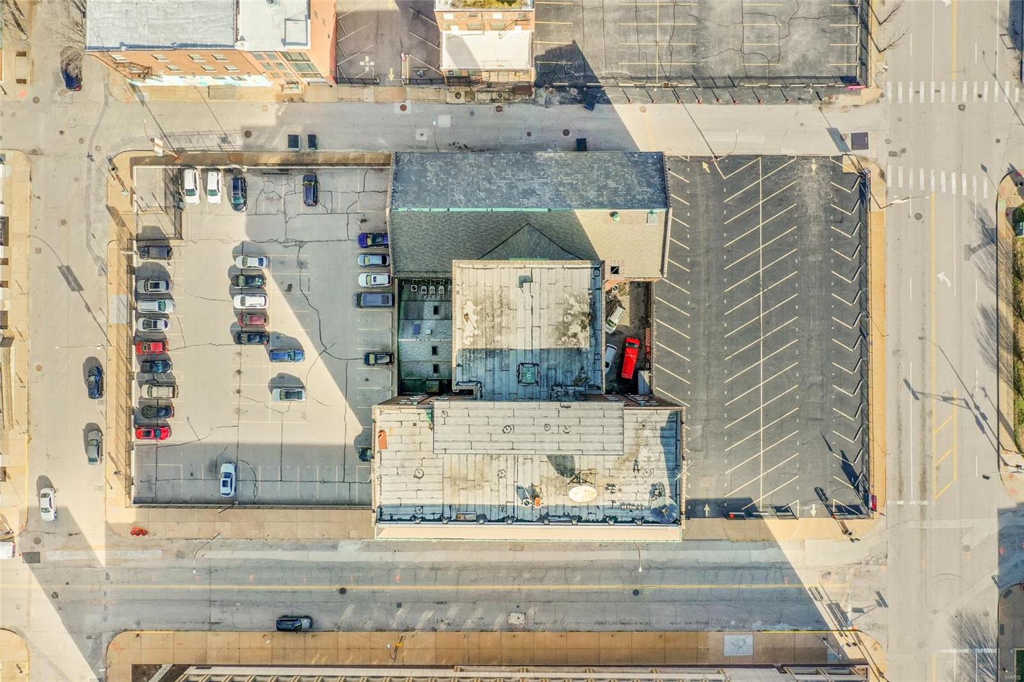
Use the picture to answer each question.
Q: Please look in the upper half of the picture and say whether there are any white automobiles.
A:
Yes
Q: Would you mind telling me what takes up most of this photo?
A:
paved ground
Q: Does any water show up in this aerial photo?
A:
No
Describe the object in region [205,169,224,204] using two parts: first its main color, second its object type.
white car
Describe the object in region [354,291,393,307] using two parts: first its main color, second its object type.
blue vehicle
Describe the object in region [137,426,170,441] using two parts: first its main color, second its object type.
red car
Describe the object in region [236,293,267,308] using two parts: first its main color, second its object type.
white car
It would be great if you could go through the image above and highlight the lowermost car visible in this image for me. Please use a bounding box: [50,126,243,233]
[277,615,311,632]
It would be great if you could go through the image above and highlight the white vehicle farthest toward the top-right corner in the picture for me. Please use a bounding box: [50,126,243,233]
[604,300,627,333]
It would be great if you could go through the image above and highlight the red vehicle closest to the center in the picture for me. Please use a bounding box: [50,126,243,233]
[620,337,641,379]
